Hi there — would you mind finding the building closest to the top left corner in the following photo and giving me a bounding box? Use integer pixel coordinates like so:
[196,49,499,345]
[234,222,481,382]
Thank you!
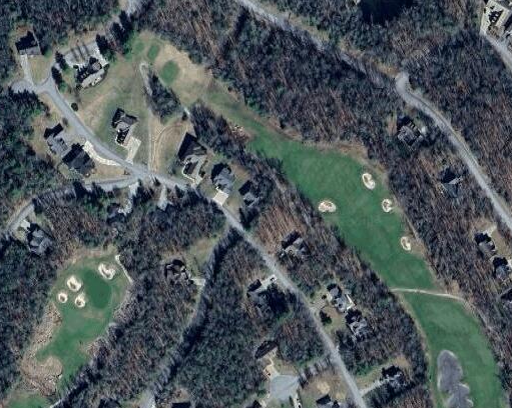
[17,35,40,57]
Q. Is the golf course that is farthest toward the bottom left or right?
left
